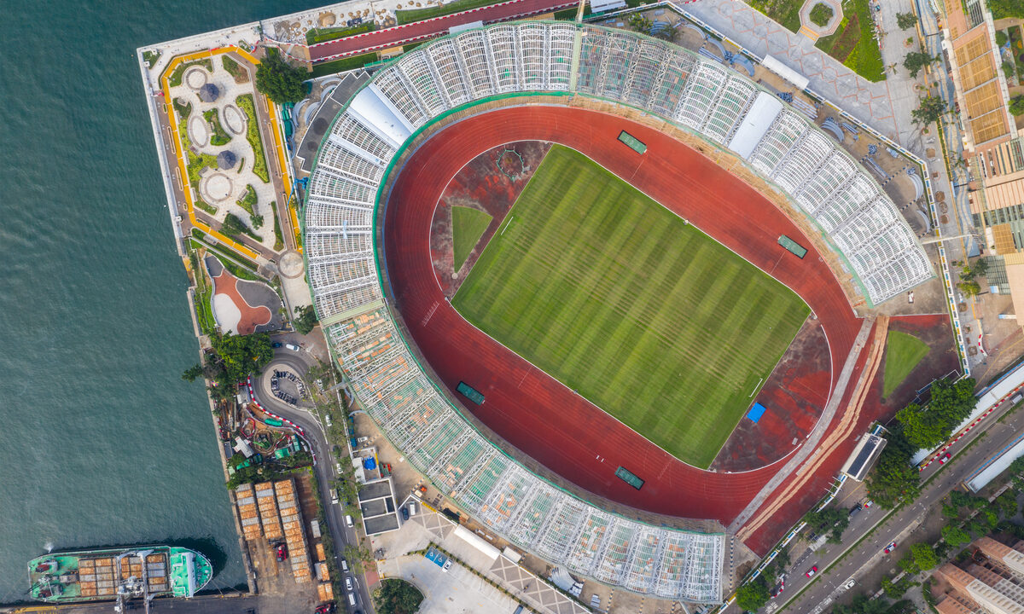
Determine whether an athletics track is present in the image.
Yes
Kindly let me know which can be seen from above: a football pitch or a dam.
football pitch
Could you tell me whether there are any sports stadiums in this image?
Yes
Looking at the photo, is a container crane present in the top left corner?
No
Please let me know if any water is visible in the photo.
Yes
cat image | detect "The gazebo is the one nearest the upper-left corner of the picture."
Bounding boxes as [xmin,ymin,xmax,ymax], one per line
[201,84,222,105]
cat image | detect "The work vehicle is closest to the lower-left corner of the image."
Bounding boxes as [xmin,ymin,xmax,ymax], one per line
[269,541,288,562]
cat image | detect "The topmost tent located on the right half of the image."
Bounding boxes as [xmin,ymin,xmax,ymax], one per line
[759,55,809,92]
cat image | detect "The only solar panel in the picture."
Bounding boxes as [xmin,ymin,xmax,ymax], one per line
[848,438,881,477]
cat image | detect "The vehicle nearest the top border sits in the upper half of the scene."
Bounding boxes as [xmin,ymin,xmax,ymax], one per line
[347,15,372,29]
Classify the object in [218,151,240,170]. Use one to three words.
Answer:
gazebo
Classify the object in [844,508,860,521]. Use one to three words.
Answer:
vehicle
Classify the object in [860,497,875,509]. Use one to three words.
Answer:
vehicle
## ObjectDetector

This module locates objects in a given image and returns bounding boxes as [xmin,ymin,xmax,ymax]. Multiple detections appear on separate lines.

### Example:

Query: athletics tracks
[383,106,948,543]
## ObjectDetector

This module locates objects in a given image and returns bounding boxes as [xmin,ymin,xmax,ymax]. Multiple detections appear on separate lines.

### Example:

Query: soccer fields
[453,144,810,467]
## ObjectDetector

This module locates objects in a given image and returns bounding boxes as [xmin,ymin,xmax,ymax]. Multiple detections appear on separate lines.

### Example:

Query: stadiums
[302,20,934,603]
